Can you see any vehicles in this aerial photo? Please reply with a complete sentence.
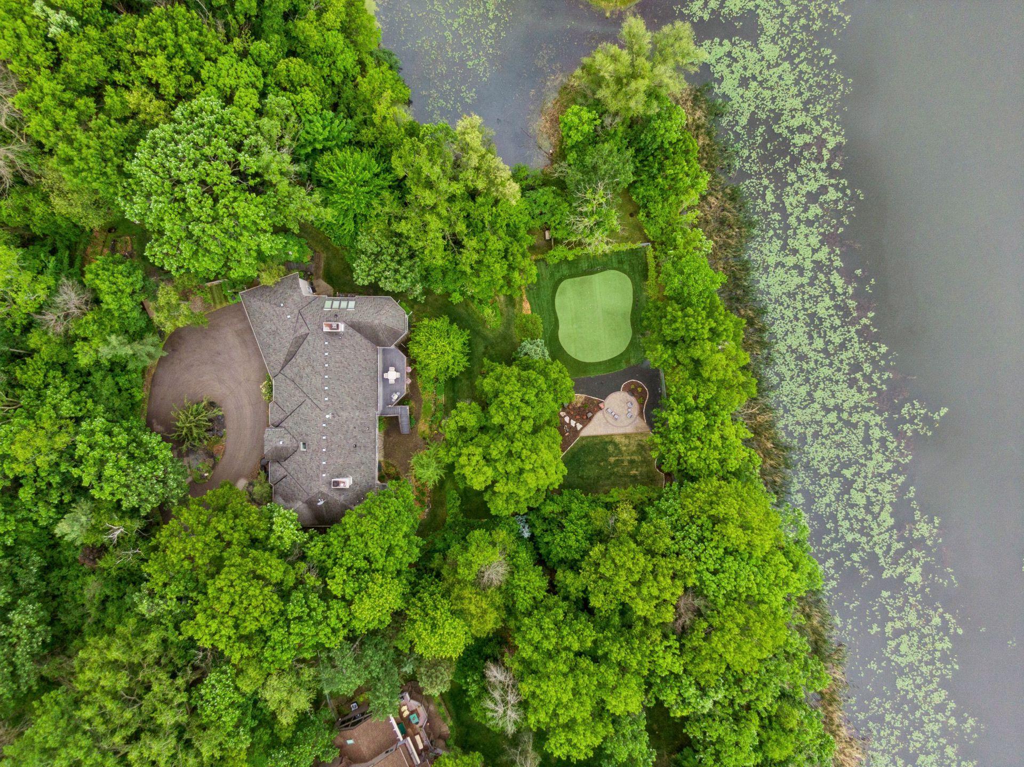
No, I find no vehicle anywhere in the image.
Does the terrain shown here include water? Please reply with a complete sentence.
Yes, the picture does contain water.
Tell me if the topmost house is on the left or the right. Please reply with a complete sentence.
It is on the left.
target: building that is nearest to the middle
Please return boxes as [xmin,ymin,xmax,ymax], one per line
[239,272,409,527]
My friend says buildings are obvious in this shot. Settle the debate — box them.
[239,272,409,527]
[324,702,430,767]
